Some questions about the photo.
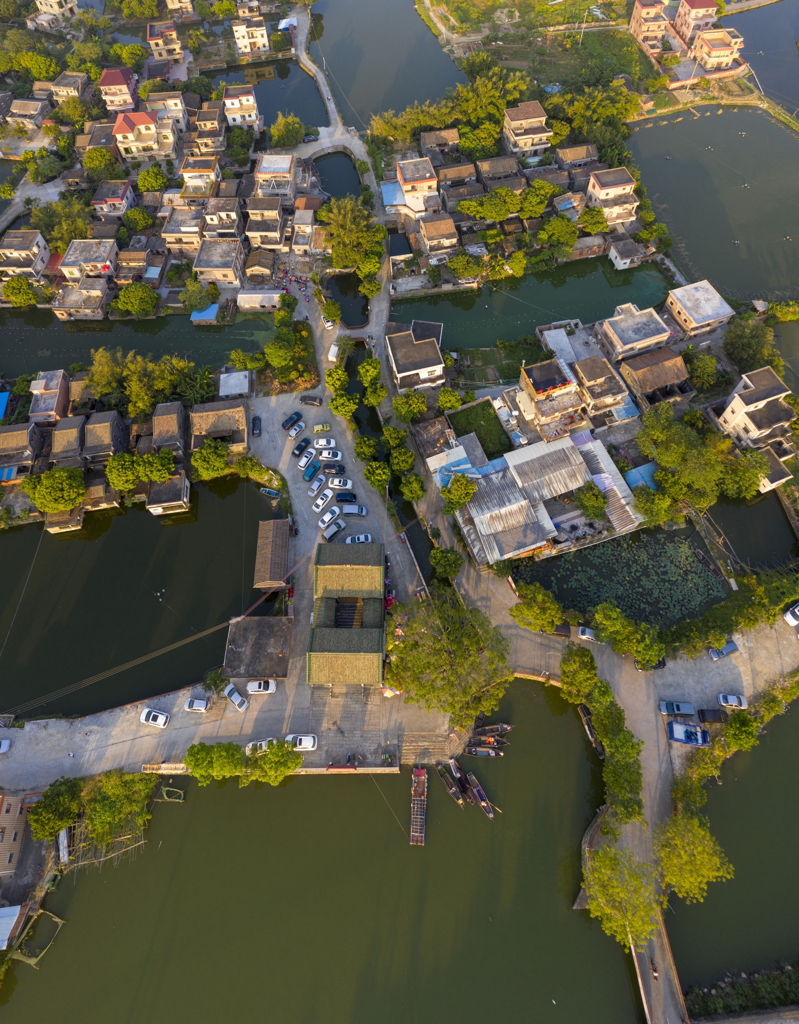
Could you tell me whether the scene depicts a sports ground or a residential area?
residential area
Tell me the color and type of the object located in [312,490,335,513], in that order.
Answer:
white car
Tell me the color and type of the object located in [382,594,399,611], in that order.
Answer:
red umbrella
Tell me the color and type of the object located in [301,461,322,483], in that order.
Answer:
blue car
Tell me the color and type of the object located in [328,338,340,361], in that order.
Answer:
white vehicle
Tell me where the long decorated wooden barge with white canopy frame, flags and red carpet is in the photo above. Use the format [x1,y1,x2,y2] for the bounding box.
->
[409,761,428,845]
